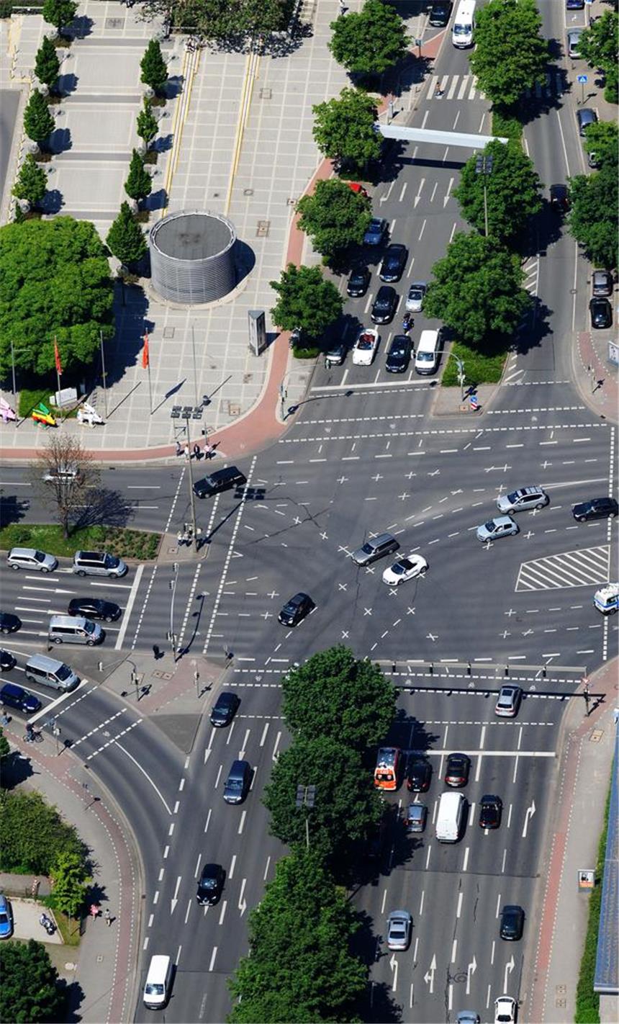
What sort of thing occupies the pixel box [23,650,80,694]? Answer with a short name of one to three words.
van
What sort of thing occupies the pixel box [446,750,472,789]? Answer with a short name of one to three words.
car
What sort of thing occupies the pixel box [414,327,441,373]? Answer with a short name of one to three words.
vehicle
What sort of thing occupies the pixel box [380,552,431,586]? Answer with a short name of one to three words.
car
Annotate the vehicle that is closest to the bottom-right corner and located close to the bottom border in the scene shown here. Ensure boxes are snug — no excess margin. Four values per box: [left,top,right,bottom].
[493,996,519,1024]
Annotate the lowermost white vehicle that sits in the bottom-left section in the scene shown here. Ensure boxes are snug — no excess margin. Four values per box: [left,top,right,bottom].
[142,953,173,1005]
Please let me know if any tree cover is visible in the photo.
Yes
